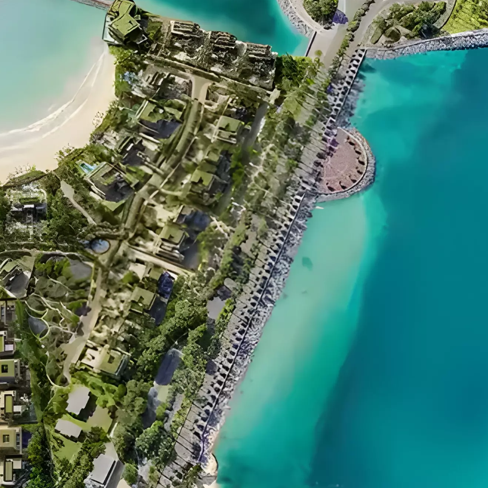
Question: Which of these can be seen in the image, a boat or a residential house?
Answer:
residential house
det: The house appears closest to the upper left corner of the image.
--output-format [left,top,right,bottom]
[103,0,148,50]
